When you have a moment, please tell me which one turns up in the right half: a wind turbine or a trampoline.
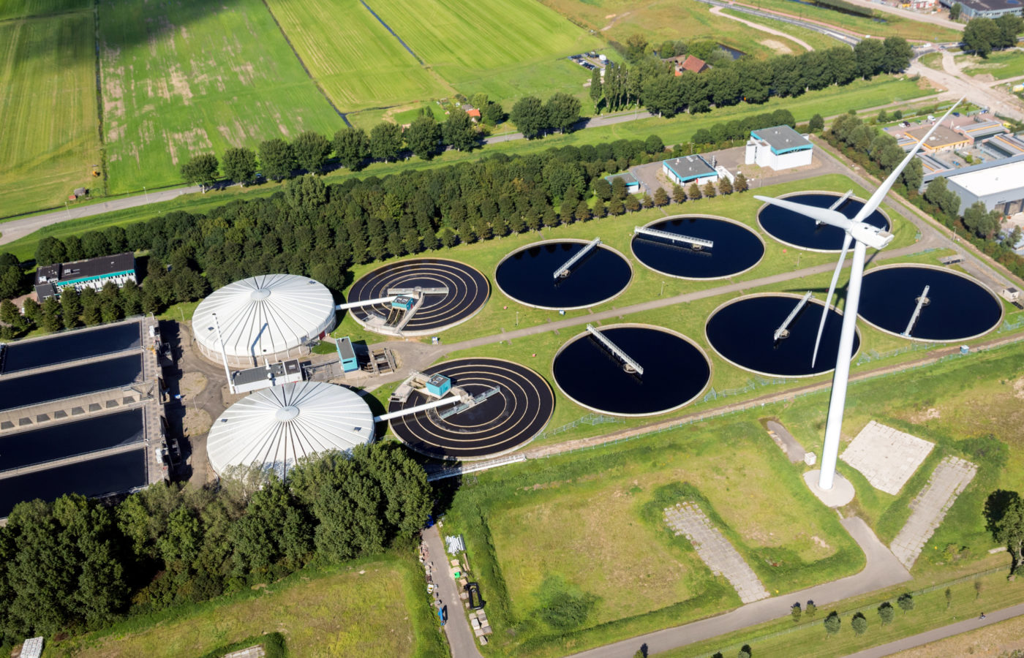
wind turbine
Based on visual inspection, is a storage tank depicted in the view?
Yes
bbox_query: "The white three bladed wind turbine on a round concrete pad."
[751,98,959,495]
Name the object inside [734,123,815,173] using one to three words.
building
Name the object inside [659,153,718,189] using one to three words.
building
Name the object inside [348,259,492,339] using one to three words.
storage tank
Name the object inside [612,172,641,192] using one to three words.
shed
